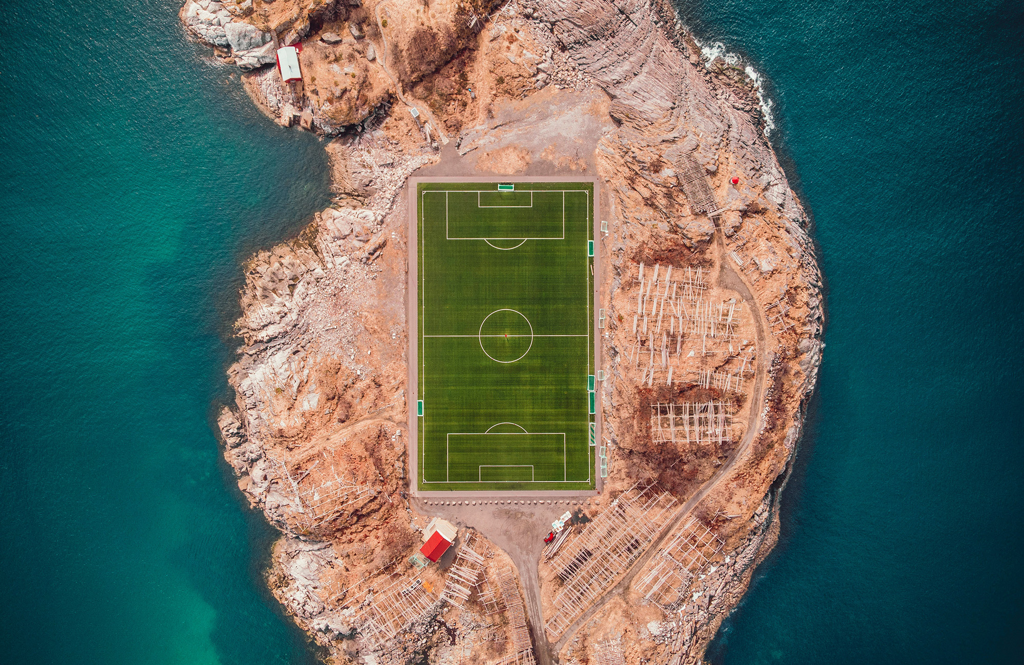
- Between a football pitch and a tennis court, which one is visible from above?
football pitch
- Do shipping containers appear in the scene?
No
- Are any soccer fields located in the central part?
Yes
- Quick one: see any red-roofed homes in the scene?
Yes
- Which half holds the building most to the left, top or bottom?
top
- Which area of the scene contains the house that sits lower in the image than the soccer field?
bottom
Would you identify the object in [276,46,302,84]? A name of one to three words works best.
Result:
building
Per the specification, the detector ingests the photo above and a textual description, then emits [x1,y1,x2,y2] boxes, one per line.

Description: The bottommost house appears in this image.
[420,530,451,563]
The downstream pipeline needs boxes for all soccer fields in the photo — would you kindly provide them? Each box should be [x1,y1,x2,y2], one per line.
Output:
[418,182,595,491]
